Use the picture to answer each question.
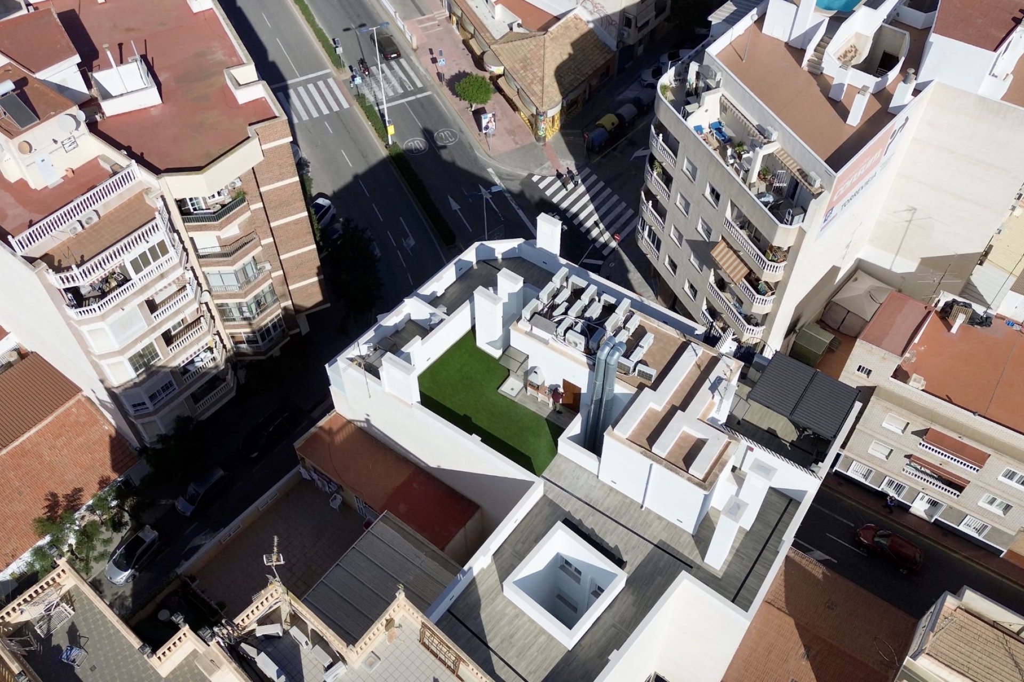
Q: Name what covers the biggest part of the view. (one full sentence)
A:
The scene is dominated by buildings.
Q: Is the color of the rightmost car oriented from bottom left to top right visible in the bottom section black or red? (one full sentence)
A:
The color of the rightmost car oriented from bottom left to top right visible in the bottom section is black.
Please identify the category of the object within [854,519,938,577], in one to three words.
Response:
car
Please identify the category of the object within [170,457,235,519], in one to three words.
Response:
car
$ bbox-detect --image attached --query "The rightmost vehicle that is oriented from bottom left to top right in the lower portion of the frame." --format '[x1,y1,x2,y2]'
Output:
[237,399,300,458]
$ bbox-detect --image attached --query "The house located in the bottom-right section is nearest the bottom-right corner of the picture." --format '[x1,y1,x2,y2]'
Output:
[885,586,1024,682]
